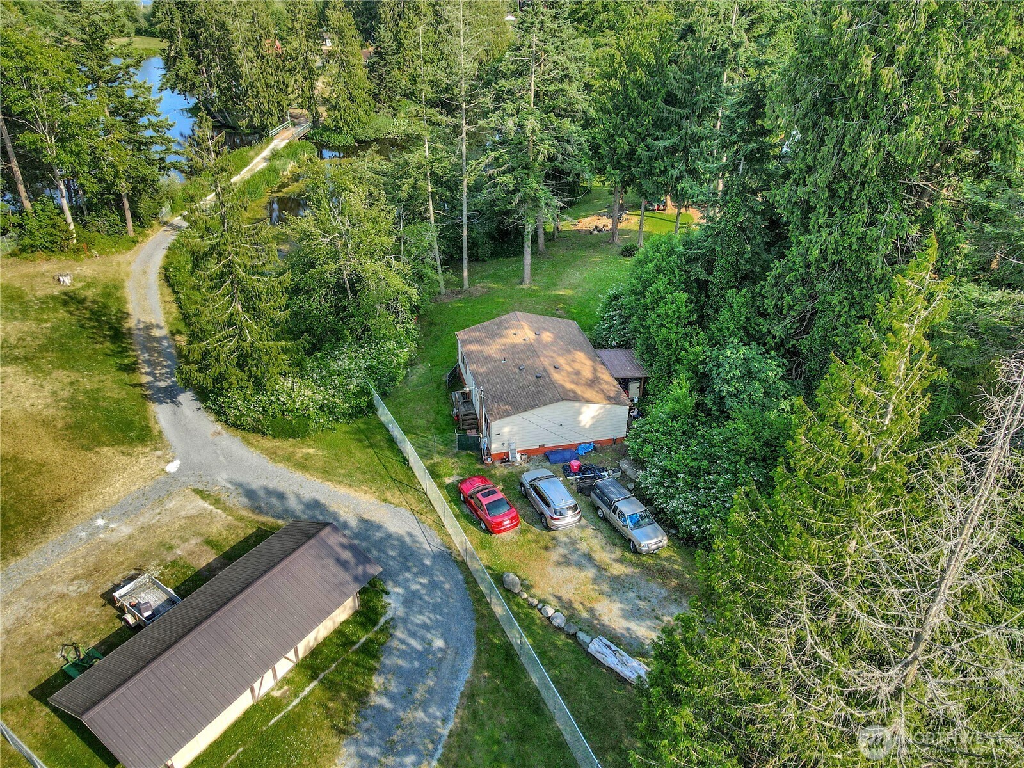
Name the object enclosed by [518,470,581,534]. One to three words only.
car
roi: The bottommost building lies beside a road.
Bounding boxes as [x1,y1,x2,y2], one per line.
[47,519,382,768]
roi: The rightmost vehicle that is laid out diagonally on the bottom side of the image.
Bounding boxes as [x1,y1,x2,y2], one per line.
[588,475,672,558]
